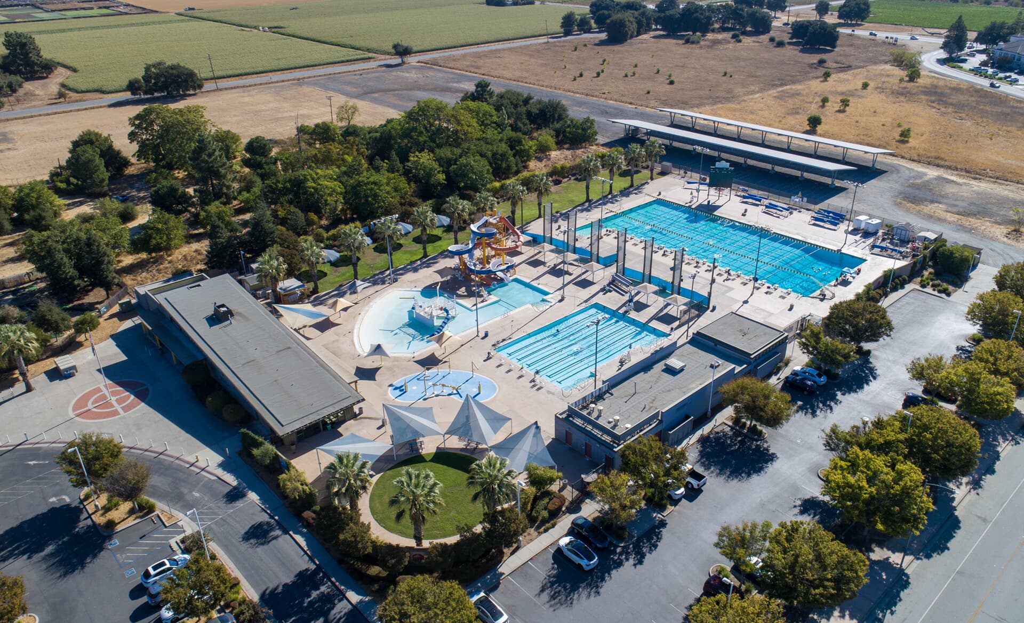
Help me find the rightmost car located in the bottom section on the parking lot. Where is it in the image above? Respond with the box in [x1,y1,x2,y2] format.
[904,388,941,409]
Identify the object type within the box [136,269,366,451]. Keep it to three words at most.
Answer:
building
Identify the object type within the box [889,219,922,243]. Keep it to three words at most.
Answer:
shed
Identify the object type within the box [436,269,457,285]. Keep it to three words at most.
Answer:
umbrella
